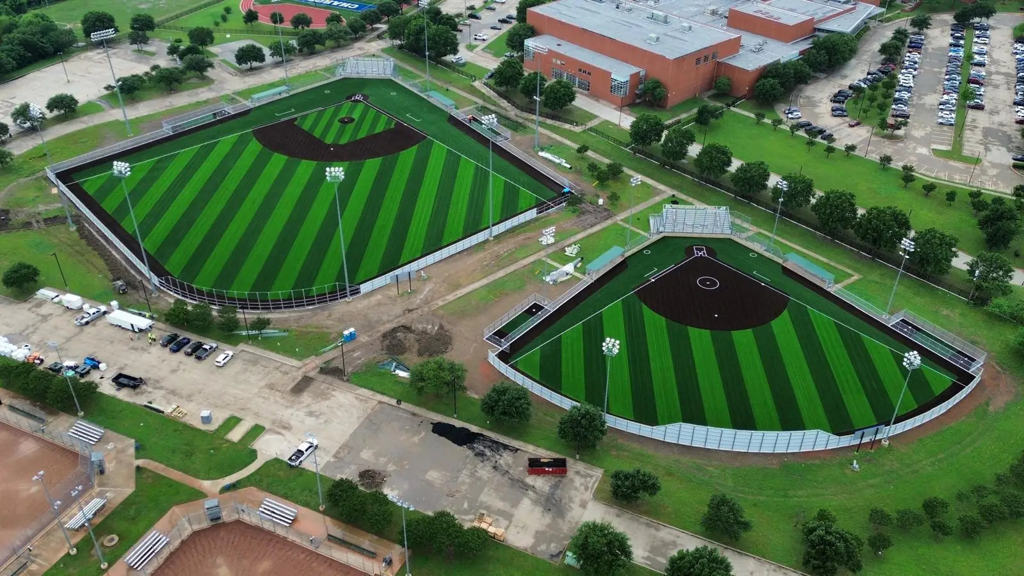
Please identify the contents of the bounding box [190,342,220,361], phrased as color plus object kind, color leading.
gray vehicle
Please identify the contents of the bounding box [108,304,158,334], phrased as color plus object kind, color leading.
white trailer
